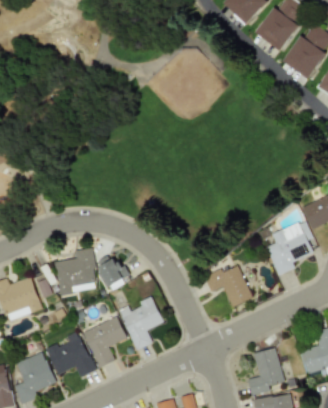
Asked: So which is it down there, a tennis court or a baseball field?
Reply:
baseball field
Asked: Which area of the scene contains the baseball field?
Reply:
center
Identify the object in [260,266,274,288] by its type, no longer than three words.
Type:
swimming pool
